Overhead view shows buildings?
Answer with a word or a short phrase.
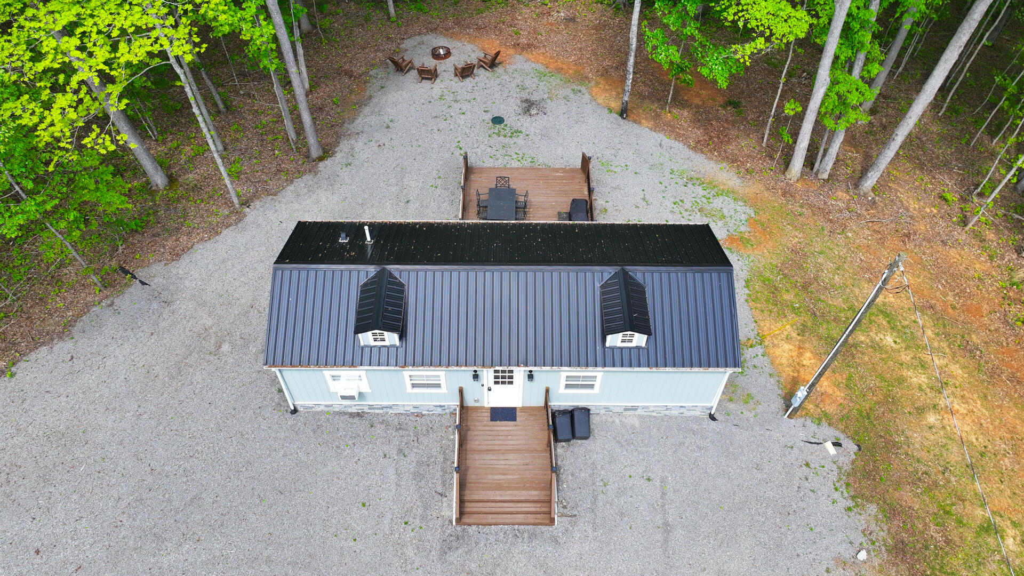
Yes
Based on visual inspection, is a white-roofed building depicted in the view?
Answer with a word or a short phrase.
No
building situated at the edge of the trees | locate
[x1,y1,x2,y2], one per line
[263,219,742,421]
